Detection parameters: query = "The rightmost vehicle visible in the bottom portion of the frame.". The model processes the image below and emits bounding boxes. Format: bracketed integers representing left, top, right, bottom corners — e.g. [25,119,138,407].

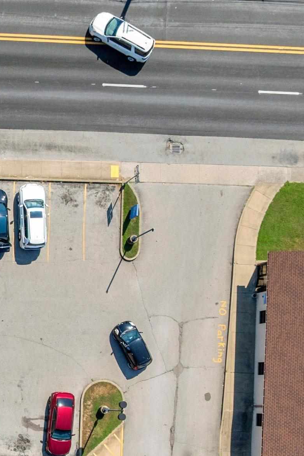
[113,318,154,373]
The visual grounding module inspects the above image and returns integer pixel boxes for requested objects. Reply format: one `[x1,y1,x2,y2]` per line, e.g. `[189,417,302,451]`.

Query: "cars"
[113,318,154,373]
[19,184,51,250]
[44,393,77,456]
[0,190,12,255]
[88,13,158,65]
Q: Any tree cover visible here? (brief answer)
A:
No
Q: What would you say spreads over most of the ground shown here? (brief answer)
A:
paved ground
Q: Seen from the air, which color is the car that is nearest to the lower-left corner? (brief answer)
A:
red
